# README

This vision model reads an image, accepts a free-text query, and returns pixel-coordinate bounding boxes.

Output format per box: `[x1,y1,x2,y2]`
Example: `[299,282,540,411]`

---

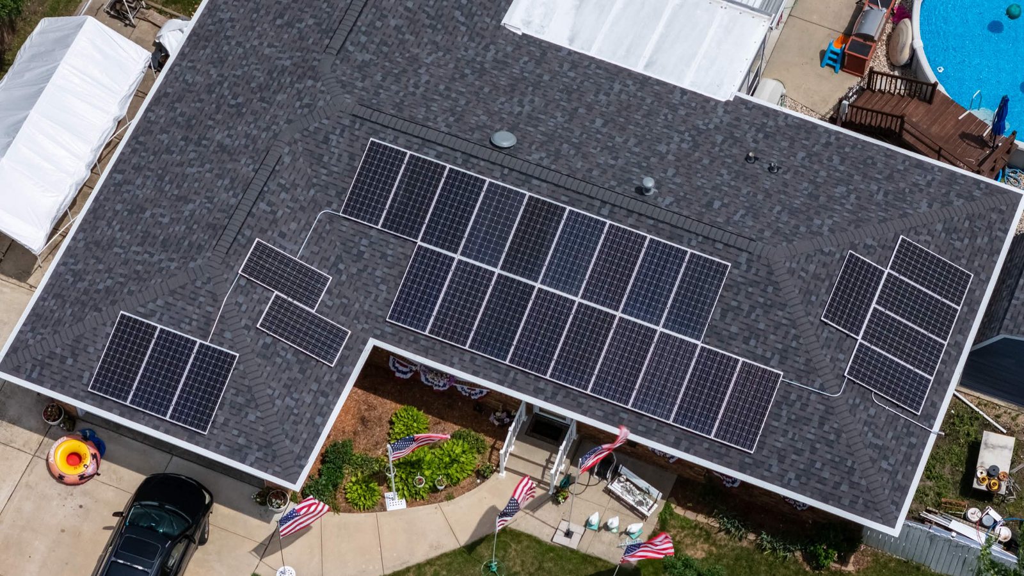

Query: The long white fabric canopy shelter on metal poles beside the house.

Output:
[0,13,156,280]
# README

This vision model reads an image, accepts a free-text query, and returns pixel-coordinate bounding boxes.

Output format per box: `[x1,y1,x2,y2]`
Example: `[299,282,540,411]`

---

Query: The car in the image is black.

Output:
[88,468,217,576]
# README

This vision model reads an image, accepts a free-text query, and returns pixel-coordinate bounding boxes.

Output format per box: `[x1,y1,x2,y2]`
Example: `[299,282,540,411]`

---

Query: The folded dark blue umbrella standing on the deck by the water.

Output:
[985,92,1011,154]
